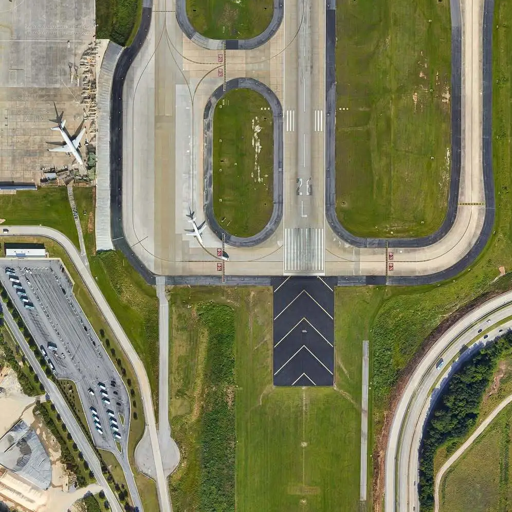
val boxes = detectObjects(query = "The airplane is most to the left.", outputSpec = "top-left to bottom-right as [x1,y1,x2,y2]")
[49,121,87,164]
